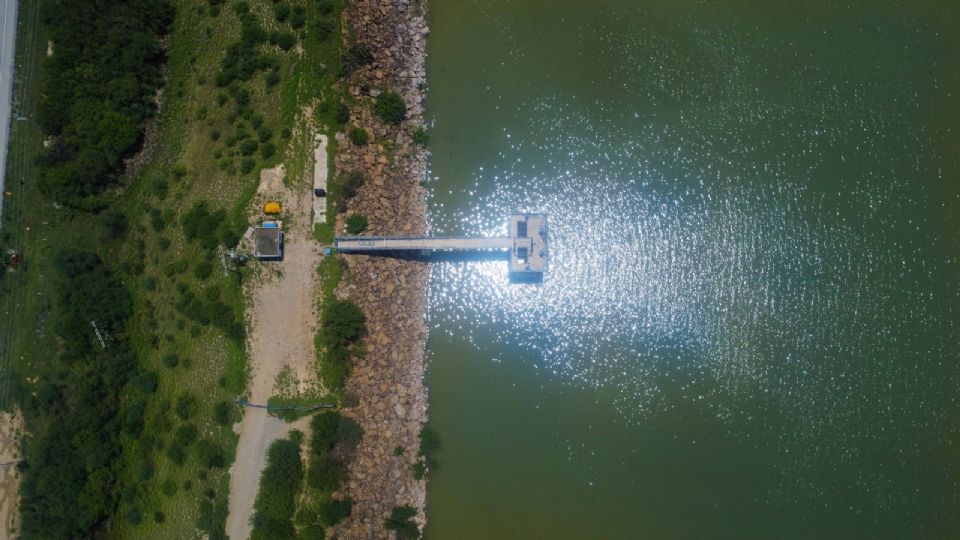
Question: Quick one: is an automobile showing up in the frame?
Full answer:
No, no automobile is visible in the view.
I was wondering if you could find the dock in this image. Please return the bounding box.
[332,235,512,256]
